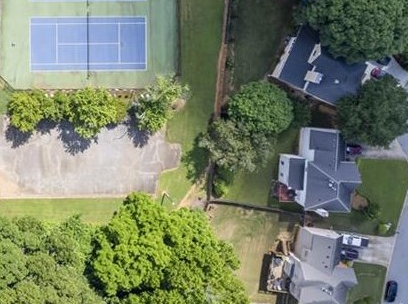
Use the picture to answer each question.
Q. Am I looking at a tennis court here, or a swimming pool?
tennis court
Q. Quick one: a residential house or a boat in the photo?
residential house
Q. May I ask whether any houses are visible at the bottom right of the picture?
Yes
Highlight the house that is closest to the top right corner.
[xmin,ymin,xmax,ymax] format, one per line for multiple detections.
[271,25,373,112]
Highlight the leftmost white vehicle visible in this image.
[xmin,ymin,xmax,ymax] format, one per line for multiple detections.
[340,235,370,248]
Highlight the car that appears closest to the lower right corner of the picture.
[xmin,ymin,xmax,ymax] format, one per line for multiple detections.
[384,279,399,304]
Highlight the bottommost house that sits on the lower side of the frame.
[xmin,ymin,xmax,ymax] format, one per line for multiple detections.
[283,229,363,304]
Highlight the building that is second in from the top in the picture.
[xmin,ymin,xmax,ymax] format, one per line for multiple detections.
[282,131,366,219]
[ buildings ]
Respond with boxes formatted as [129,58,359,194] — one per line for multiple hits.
[271,25,373,112]
[282,131,366,219]
[283,229,363,304]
